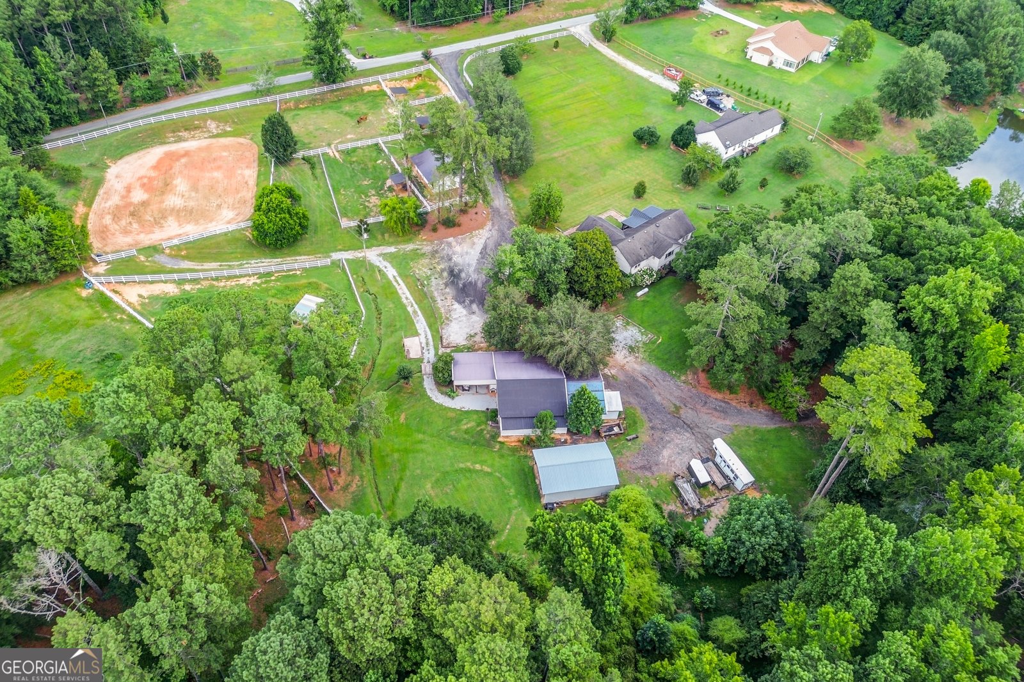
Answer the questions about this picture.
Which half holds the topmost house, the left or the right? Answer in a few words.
right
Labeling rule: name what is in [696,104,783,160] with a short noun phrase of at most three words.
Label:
house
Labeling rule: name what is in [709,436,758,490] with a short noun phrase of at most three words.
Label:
trailer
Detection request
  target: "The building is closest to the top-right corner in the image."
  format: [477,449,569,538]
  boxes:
[751,15,847,72]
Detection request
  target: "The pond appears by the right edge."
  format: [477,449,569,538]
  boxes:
[952,111,1024,215]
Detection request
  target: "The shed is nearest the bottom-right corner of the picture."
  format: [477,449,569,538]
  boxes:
[533,435,619,503]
